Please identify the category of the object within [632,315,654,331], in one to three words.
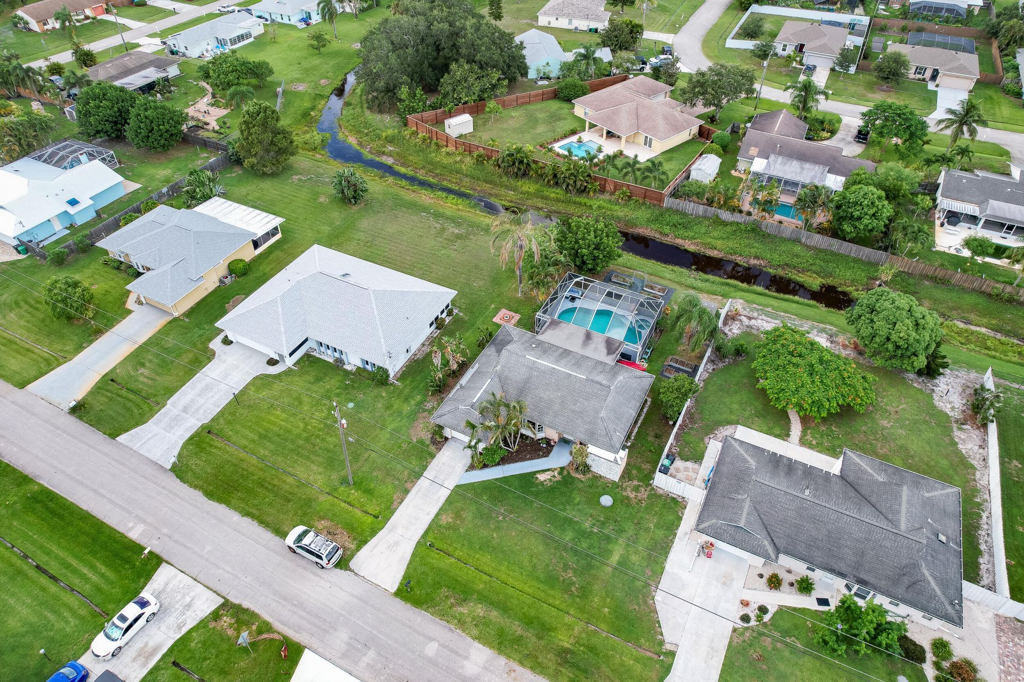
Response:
swimming pool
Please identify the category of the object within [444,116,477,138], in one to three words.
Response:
shed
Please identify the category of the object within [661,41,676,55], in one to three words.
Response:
car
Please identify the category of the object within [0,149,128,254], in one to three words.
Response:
house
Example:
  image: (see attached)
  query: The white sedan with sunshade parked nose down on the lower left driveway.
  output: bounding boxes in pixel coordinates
[86,590,161,664]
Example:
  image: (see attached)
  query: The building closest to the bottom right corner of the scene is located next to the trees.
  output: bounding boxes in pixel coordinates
[689,435,965,637]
